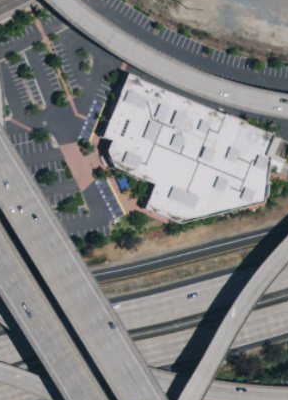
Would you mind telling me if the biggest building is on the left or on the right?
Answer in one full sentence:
The biggest building is on the right side of the image.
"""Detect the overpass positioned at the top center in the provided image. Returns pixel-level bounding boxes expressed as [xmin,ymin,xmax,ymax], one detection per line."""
[43,0,288,119]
